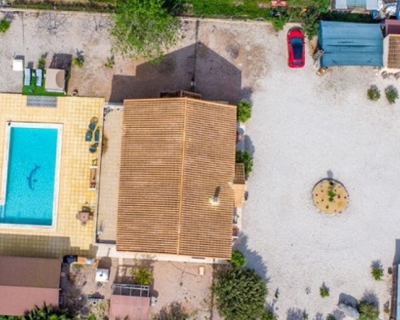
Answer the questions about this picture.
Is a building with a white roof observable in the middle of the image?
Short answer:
No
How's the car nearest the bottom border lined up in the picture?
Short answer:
from top to bottom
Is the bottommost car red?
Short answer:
Yes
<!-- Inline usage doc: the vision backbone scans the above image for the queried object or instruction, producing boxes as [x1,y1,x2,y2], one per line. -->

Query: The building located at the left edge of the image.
[0,257,62,315]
